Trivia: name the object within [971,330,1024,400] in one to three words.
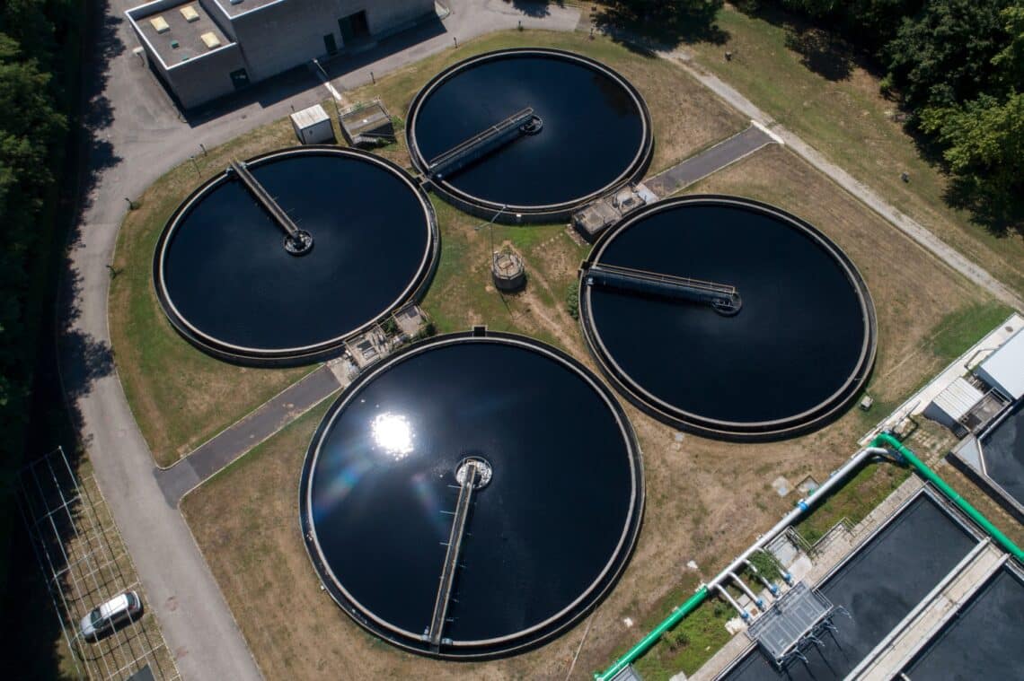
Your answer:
building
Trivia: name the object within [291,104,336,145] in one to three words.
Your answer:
building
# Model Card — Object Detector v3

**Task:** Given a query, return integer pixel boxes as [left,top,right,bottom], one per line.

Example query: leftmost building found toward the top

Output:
[127,0,253,109]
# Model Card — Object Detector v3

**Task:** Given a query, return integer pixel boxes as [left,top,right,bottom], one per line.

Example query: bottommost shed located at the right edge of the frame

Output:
[924,378,985,431]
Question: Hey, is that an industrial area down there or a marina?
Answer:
industrial area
